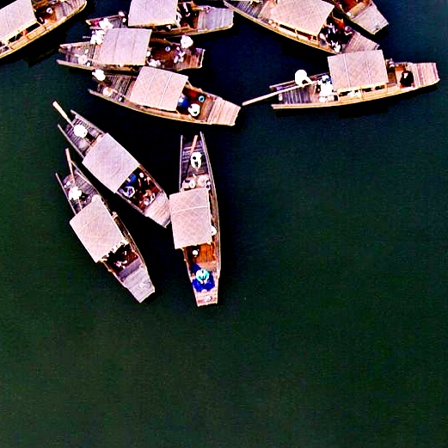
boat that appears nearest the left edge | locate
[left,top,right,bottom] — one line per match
[0,0,87,65]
